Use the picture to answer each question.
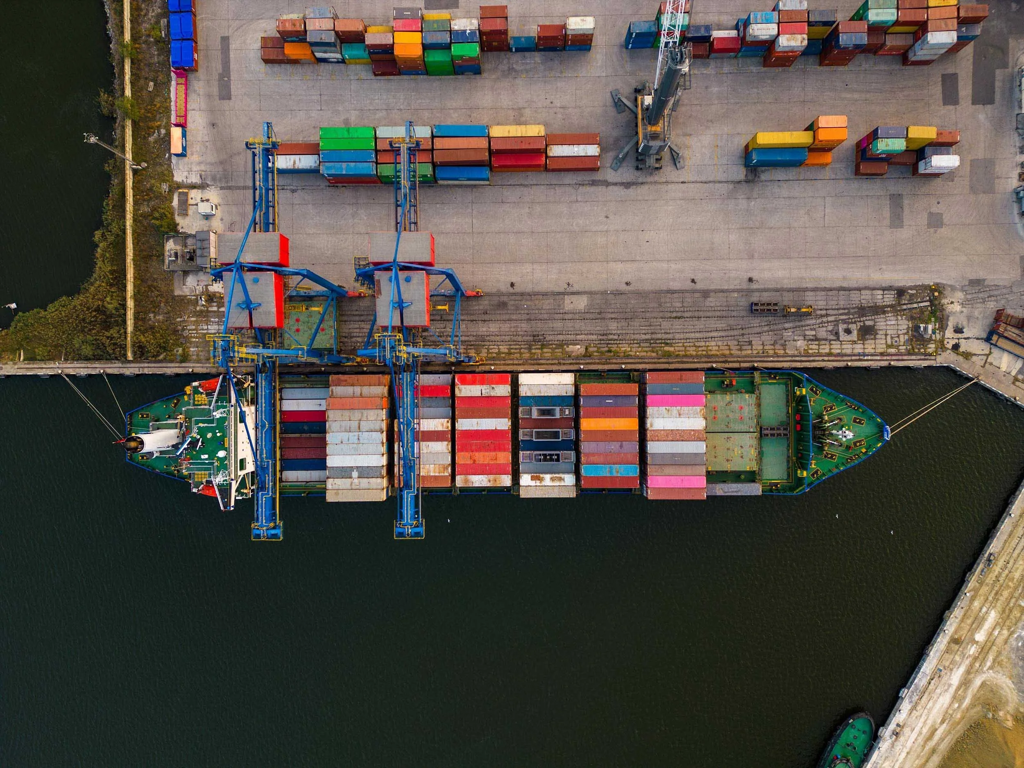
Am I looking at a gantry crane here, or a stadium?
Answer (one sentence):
There is a gantry crane in the scene.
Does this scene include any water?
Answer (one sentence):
Yes, there's water in this view.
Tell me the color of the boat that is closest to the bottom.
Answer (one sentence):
From above, the boat that is closest to the bottom appears green.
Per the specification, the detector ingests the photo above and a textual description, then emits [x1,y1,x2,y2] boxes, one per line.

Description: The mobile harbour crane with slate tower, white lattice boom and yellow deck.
[610,0,703,172]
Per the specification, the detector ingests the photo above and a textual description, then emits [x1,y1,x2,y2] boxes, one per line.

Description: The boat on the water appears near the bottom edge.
[807,705,875,768]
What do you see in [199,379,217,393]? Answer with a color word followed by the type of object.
red boat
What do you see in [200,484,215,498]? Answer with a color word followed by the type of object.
red boat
